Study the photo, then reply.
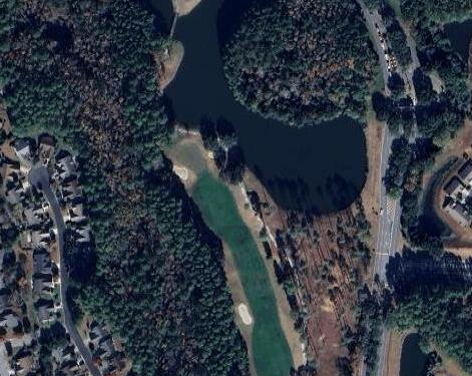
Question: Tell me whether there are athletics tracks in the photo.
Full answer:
No, I can't see a single athletics track in this photo.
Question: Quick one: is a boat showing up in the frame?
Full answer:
No, the picture doesn't show any boat.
